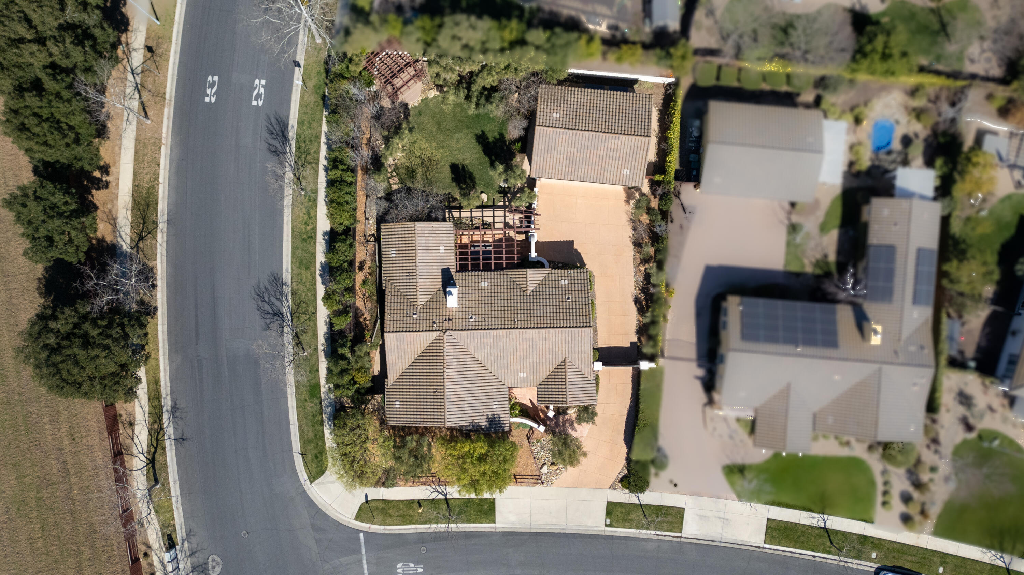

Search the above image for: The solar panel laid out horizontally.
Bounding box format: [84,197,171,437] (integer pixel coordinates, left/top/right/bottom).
[740,297,841,348]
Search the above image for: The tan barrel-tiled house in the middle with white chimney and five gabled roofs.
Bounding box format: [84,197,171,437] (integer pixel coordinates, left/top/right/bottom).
[380,221,597,431]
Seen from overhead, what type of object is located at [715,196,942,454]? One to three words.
house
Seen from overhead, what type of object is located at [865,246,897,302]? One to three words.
solar panel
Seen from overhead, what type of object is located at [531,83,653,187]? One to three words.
building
